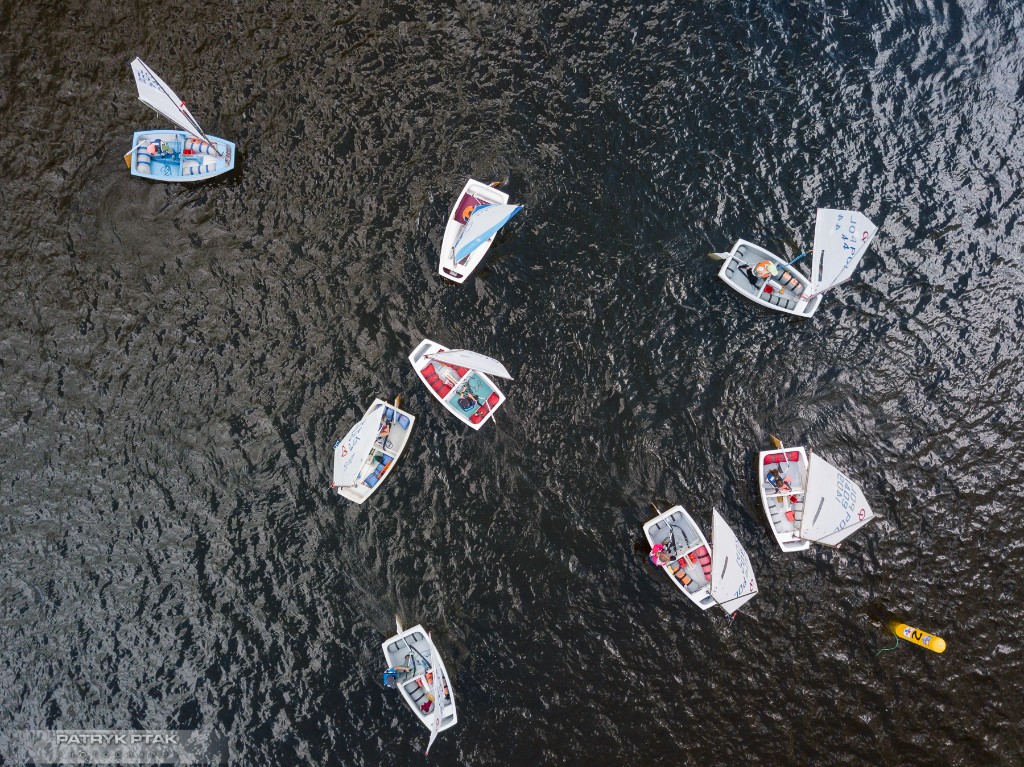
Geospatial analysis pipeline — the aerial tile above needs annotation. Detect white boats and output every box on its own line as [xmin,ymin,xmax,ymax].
[408,339,518,430]
[438,179,527,284]
[383,617,456,757]
[330,395,414,503]
[711,204,879,318]
[644,502,759,622]
[759,436,875,551]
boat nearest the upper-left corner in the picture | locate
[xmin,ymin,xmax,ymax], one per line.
[124,56,235,181]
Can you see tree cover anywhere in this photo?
No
